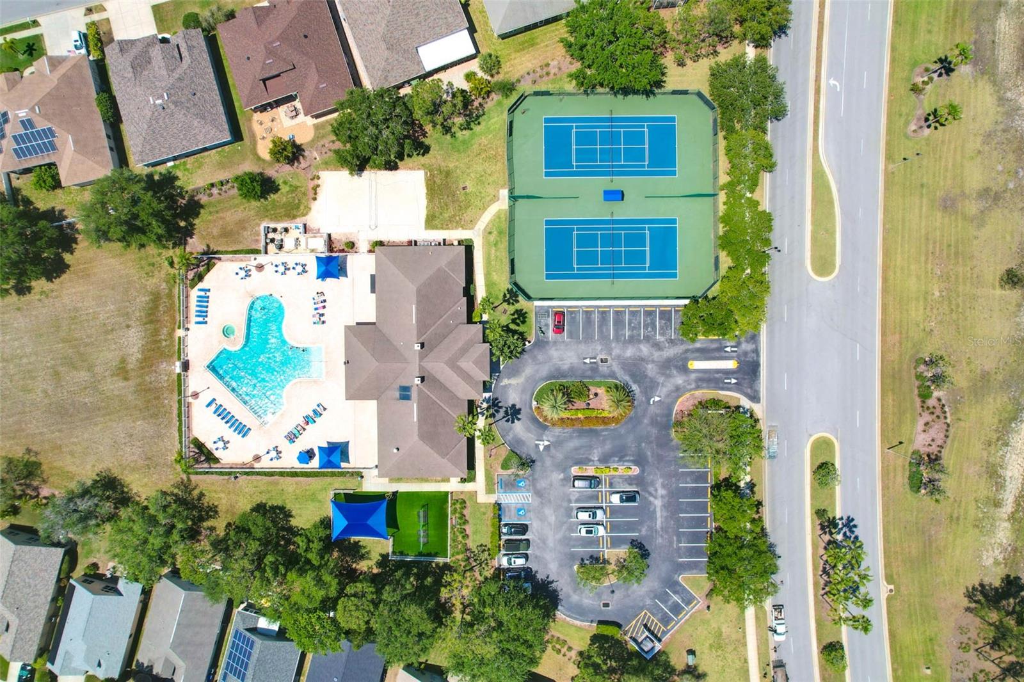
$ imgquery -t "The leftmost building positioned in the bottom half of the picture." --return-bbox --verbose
[0,526,73,682]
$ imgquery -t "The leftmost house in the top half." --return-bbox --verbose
[0,56,120,182]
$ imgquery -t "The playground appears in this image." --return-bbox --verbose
[333,491,450,561]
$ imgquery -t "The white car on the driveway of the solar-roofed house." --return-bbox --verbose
[68,29,89,58]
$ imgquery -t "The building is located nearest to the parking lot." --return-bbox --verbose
[344,246,490,478]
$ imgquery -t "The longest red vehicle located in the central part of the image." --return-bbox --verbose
[553,310,565,335]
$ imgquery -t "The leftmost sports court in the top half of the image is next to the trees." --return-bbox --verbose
[307,170,426,237]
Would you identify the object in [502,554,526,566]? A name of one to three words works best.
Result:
vehicle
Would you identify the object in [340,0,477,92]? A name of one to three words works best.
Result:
house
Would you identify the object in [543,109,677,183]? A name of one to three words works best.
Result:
tennis court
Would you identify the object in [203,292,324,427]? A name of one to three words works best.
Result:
swimming pool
